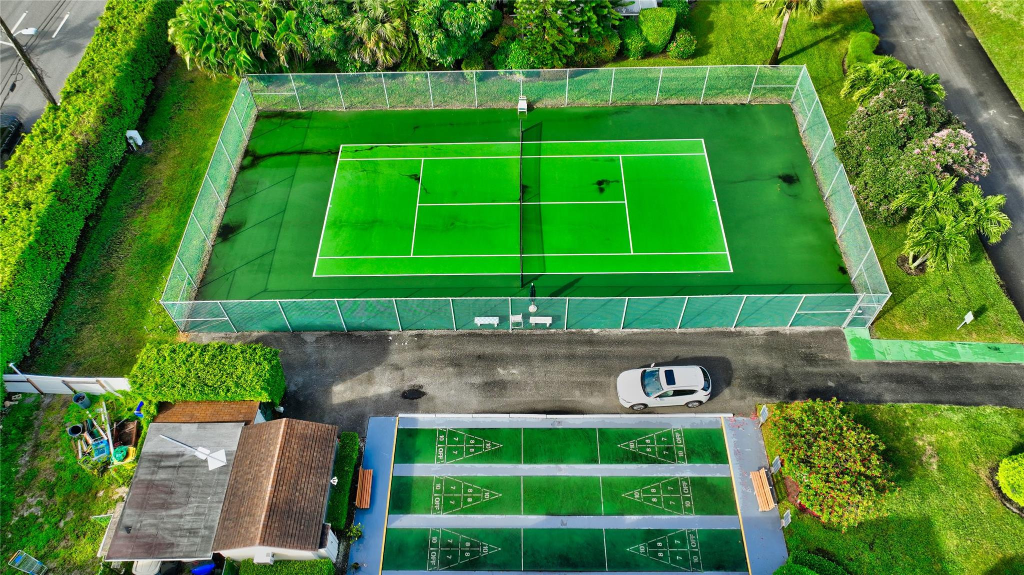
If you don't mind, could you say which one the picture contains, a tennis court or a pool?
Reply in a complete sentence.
Of the two, only a tennis court appears.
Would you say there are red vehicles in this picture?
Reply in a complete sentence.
No, I can't see a single red vehicle in this photo.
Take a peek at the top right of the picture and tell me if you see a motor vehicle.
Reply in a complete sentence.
No, there's no motor vehicle to be seen at the top right of the picture.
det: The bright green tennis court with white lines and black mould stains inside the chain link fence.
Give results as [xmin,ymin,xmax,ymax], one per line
[186,103,866,331]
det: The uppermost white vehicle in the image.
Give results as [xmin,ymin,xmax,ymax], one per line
[618,361,713,407]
